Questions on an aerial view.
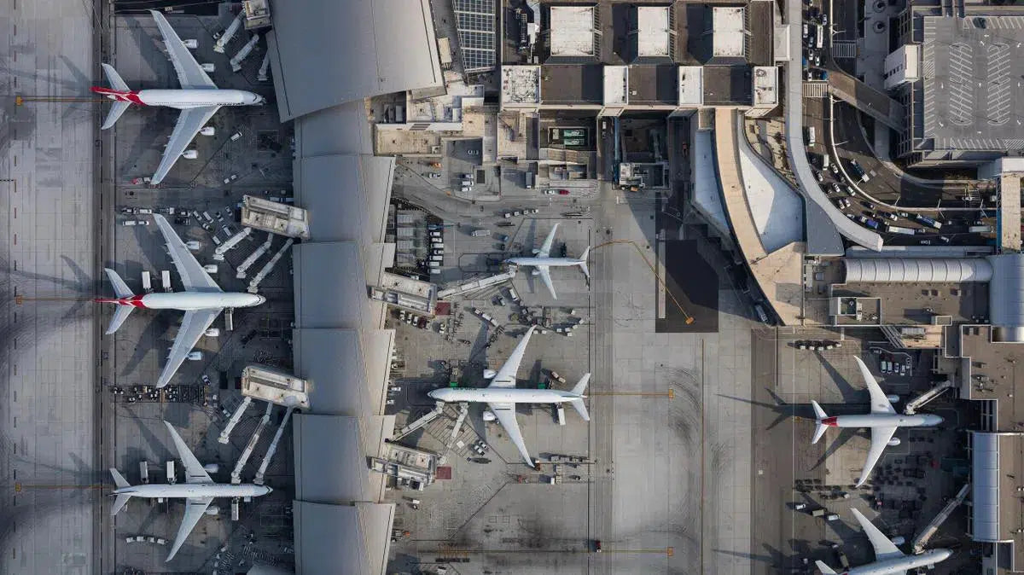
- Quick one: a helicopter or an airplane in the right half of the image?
airplane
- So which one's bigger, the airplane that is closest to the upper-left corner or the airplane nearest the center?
the airplane that is closest to the upper-left corner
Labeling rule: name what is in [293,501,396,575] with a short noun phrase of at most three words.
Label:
building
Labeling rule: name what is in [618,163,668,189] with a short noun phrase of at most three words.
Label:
house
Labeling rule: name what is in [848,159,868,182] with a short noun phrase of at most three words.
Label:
vehicle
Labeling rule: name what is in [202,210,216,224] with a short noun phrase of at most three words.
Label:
vehicle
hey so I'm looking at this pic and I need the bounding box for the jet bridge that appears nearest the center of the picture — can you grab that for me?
[437,266,520,300]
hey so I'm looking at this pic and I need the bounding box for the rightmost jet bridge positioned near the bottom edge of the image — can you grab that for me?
[911,480,974,555]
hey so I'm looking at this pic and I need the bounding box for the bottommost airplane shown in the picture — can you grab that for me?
[820,508,953,575]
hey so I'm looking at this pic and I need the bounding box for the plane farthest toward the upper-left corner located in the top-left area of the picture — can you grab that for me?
[90,10,267,185]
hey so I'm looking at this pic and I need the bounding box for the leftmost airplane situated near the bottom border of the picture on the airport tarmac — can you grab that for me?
[99,421,273,563]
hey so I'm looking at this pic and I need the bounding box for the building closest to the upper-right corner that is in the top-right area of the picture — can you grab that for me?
[885,0,1024,168]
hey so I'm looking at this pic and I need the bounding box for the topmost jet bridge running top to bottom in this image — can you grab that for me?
[258,48,272,84]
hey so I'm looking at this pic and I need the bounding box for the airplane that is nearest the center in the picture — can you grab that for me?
[504,223,590,301]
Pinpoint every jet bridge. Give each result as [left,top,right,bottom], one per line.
[901,379,954,417]
[255,407,294,486]
[392,400,445,442]
[437,266,520,300]
[230,403,277,486]
[911,480,974,555]
[229,32,264,77]
[213,8,244,57]
[258,48,272,84]
[215,226,256,261]
[439,401,470,469]
[248,236,298,295]
[237,231,280,281]
[219,398,255,445]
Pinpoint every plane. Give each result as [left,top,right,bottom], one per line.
[98,212,267,387]
[90,10,267,185]
[809,356,944,488]
[504,223,590,301]
[99,421,273,563]
[429,325,591,467]
[820,508,953,575]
